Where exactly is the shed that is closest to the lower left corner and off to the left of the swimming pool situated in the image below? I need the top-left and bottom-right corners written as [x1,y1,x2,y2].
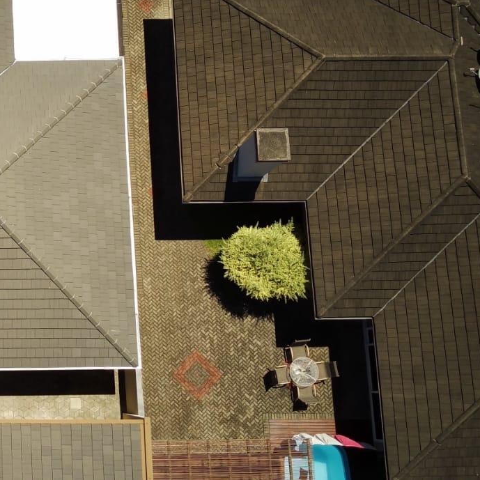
[0,413,158,480]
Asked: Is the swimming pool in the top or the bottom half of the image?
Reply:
bottom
